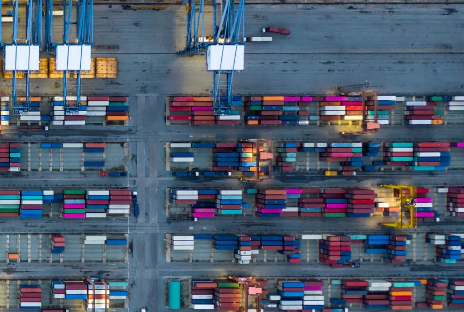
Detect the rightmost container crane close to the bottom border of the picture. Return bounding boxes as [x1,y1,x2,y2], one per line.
[229,272,264,312]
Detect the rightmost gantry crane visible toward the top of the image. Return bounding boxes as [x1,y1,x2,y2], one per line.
[341,90,383,138]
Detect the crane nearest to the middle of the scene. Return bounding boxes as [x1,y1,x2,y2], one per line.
[239,136,276,184]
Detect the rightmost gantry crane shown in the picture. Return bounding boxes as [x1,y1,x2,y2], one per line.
[376,181,414,230]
